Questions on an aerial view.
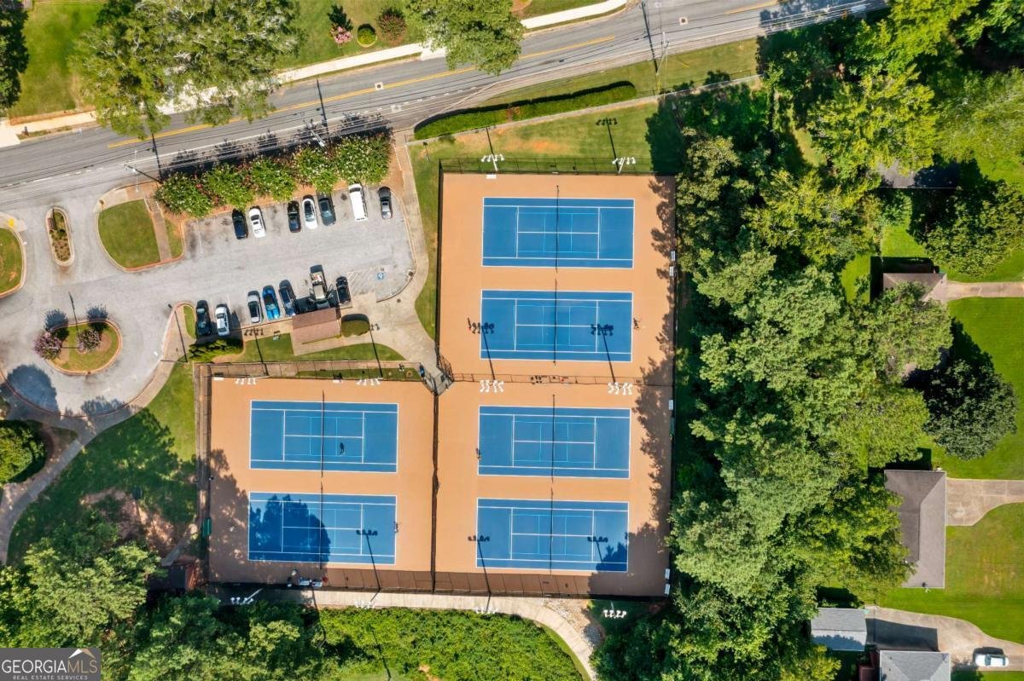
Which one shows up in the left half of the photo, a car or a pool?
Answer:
car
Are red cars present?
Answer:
No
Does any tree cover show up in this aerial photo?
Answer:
Yes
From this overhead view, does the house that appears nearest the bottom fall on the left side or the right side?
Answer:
right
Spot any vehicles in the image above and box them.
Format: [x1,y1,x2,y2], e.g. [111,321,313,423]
[263,287,280,319]
[336,277,351,307]
[347,184,367,221]
[279,283,297,315]
[302,196,318,228]
[214,305,231,336]
[196,303,211,335]
[286,202,302,231]
[231,209,248,240]
[974,652,1008,668]
[308,265,332,304]
[378,187,393,219]
[247,292,263,323]
[318,193,336,225]
[248,206,266,238]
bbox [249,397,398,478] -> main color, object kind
blue tennis court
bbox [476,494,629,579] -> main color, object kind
blue tennis court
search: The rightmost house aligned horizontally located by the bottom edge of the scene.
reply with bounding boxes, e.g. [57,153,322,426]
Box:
[872,646,951,681]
